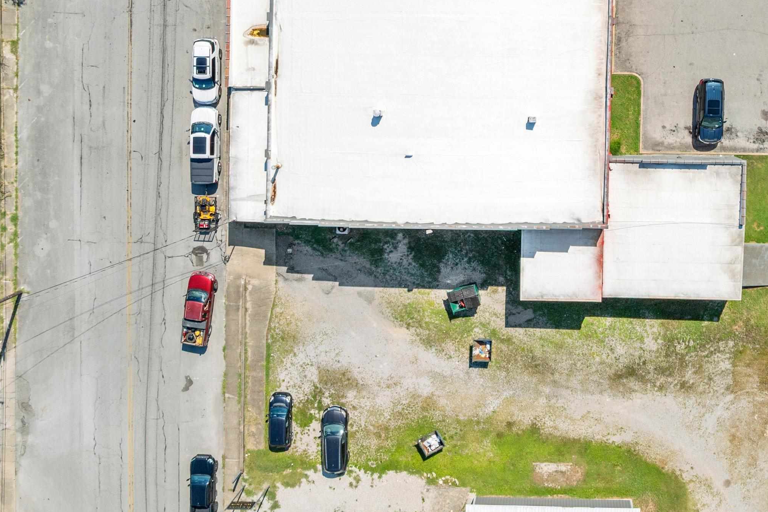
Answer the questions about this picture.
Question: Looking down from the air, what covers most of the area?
paved ground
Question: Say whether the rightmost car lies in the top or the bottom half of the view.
top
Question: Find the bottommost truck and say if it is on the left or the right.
left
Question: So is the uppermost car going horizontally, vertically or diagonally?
vertically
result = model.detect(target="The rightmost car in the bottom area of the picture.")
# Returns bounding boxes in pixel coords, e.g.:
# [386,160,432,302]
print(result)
[317,404,350,476]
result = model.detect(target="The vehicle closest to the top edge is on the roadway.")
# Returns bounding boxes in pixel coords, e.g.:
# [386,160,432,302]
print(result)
[188,39,224,105]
